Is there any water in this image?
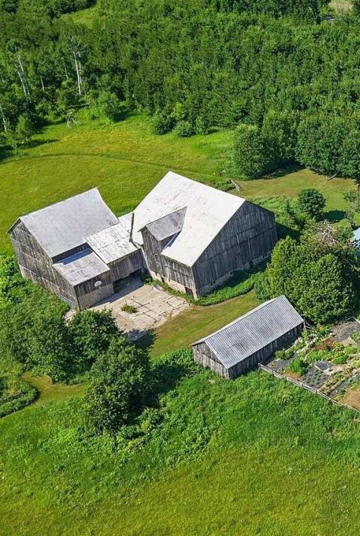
No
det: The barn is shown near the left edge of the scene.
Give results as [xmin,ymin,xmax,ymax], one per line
[5,188,128,309]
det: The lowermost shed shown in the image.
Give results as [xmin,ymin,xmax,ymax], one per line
[186,294,308,379]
